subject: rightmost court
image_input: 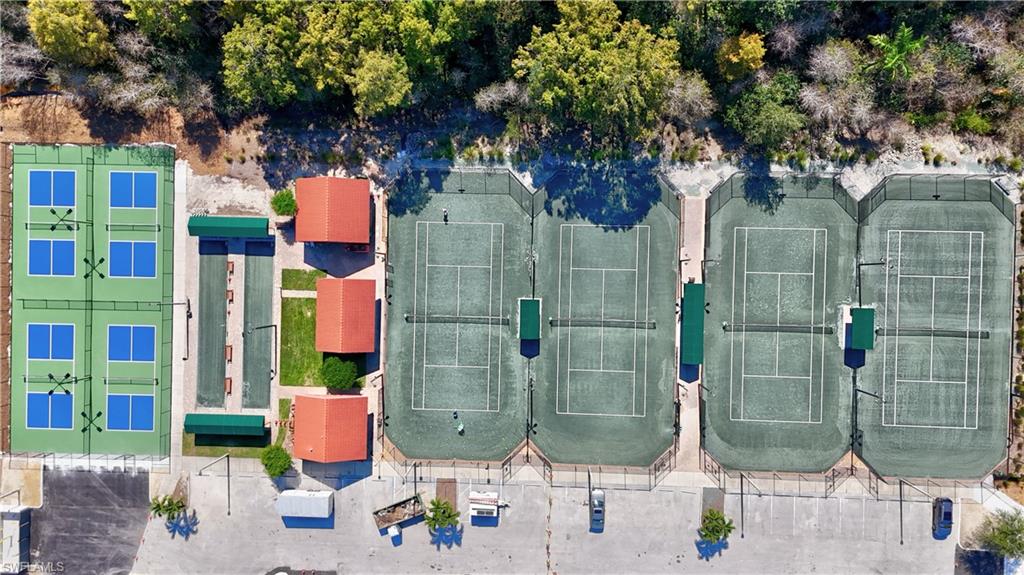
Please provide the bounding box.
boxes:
[852,176,1016,480]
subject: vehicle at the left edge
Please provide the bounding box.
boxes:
[1,510,30,575]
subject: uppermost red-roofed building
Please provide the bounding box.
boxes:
[296,174,372,243]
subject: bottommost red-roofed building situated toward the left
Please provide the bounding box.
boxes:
[295,394,369,463]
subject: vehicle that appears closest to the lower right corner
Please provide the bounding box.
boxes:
[932,497,955,537]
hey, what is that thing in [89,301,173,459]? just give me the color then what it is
green sports court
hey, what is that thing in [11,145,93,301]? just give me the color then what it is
green sports court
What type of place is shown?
sports ground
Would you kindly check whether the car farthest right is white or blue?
blue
